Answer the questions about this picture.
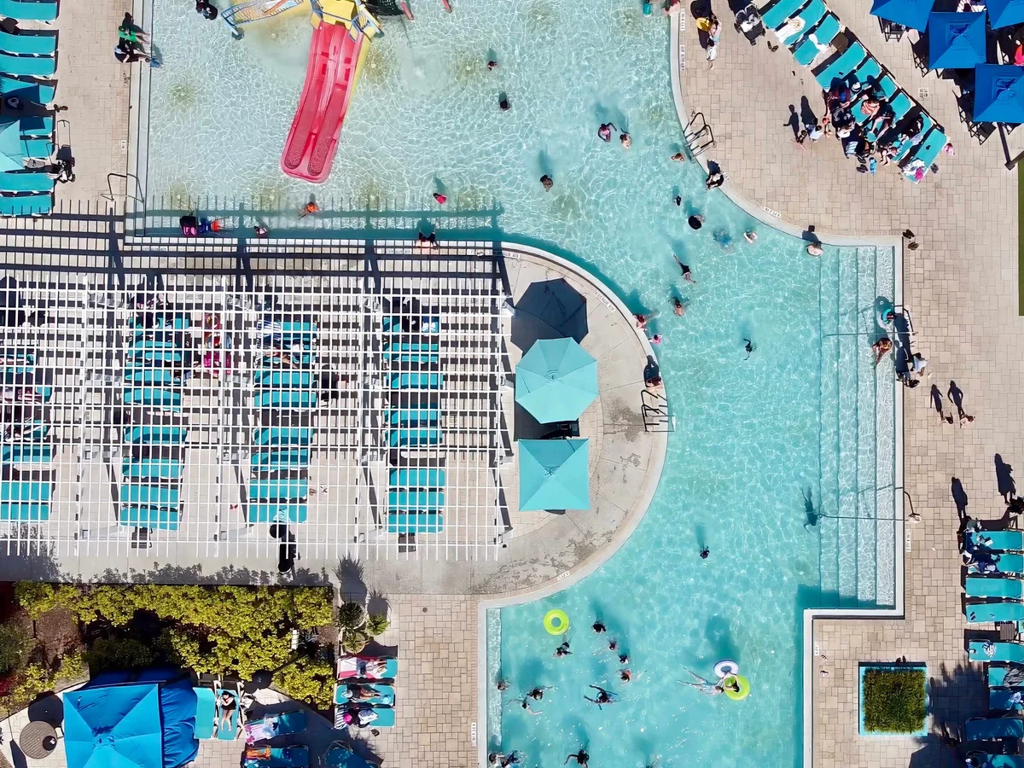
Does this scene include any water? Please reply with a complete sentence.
Yes, some water is visible.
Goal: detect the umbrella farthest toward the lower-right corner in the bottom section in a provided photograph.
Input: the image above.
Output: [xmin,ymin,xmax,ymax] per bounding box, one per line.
[521,440,589,508]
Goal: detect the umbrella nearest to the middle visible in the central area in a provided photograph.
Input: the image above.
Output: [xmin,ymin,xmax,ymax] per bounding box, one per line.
[514,338,601,425]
